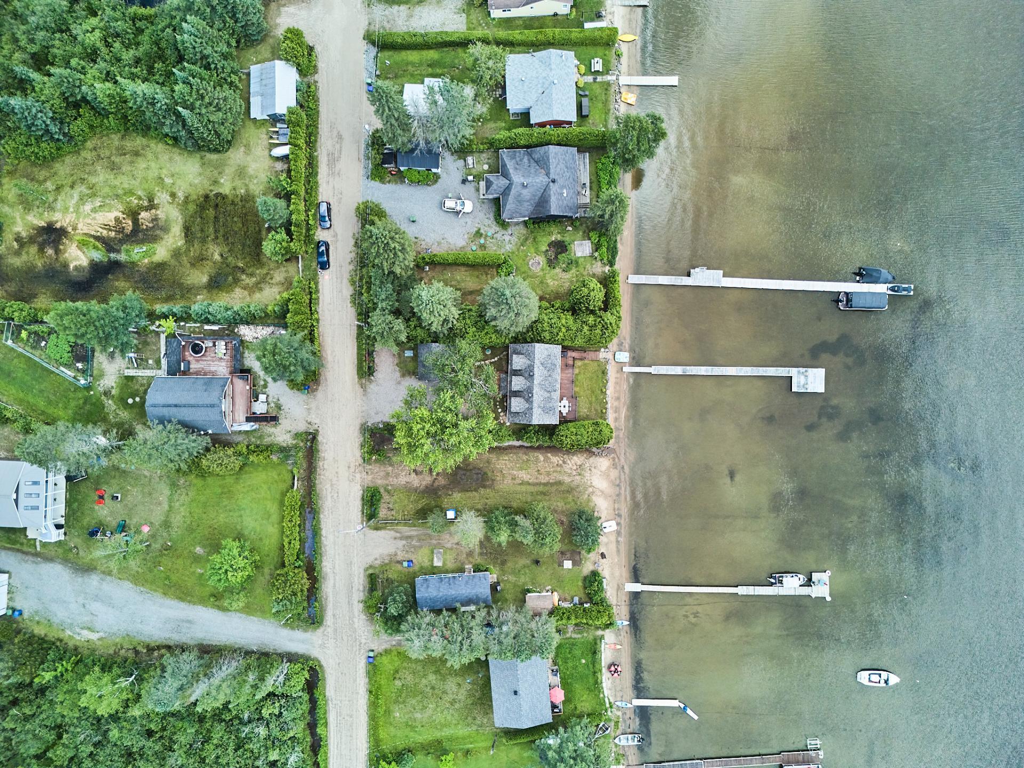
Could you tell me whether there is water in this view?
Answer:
Yes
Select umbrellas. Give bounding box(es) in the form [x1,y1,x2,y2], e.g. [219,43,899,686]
[550,687,563,702]
[610,663,621,676]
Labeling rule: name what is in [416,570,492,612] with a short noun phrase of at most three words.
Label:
house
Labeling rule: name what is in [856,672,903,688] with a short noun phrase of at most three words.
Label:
boat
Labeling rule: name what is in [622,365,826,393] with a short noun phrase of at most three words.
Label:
pier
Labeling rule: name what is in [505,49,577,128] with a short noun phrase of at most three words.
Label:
house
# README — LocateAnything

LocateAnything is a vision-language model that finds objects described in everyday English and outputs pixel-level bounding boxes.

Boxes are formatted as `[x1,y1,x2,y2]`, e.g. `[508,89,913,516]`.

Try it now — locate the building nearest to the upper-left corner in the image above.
[244,60,299,125]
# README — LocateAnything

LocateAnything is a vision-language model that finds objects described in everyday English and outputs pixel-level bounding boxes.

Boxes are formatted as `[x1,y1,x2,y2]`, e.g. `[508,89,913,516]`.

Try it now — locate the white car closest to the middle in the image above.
[441,194,472,217]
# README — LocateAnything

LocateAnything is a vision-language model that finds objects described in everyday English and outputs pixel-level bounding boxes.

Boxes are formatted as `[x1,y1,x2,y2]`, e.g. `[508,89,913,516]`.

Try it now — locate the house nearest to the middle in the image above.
[498,343,561,425]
